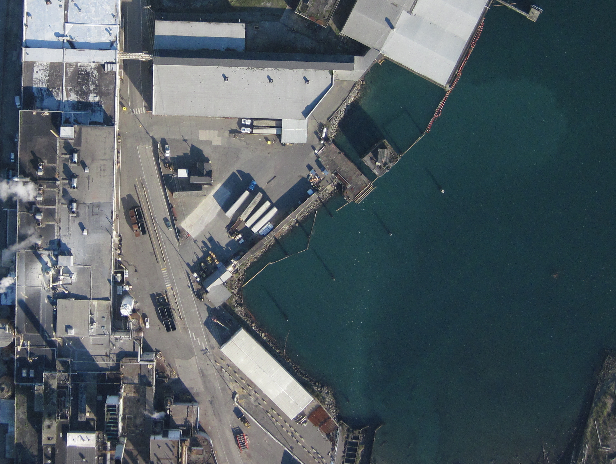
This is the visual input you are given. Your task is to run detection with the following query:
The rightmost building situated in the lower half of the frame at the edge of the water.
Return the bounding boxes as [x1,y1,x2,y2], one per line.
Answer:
[220,325,313,419]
